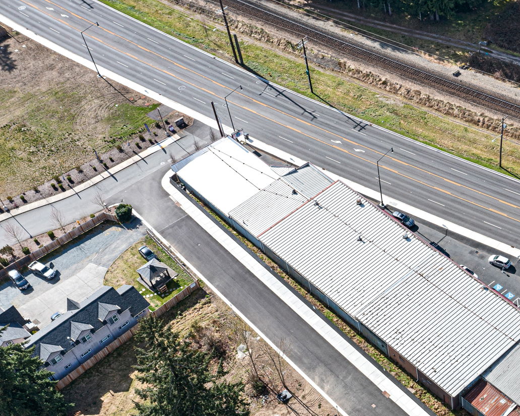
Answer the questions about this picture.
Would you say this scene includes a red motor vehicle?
No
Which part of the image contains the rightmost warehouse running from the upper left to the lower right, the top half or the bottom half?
bottom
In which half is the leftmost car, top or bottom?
bottom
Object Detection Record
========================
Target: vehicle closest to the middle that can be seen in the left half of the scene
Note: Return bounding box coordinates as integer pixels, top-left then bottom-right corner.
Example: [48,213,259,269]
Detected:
[137,244,158,262]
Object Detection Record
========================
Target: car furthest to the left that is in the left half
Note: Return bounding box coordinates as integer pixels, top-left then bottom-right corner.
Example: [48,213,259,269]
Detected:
[7,268,31,290]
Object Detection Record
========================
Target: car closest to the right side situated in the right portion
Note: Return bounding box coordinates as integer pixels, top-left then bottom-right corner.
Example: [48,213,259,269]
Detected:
[488,255,513,270]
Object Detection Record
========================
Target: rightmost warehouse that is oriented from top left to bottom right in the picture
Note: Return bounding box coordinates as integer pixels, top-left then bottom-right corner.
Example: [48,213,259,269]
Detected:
[260,179,520,411]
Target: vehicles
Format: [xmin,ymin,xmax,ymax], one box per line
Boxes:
[488,255,513,270]
[7,268,31,290]
[137,244,158,262]
[44,309,67,325]
[391,211,416,230]
[428,240,450,258]
[25,259,56,280]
